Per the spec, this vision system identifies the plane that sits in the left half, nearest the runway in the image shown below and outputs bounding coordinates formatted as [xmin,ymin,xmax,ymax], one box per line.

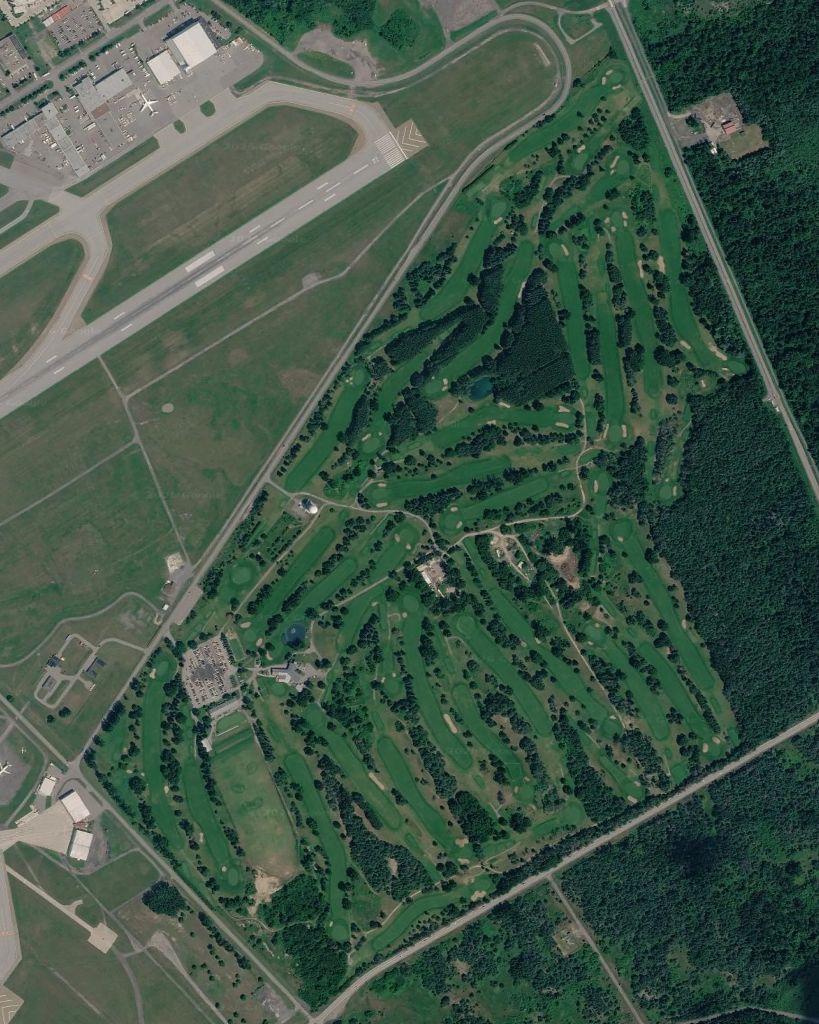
[141,94,157,113]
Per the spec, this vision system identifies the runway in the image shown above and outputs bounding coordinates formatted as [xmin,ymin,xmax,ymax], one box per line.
[0,132,407,418]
